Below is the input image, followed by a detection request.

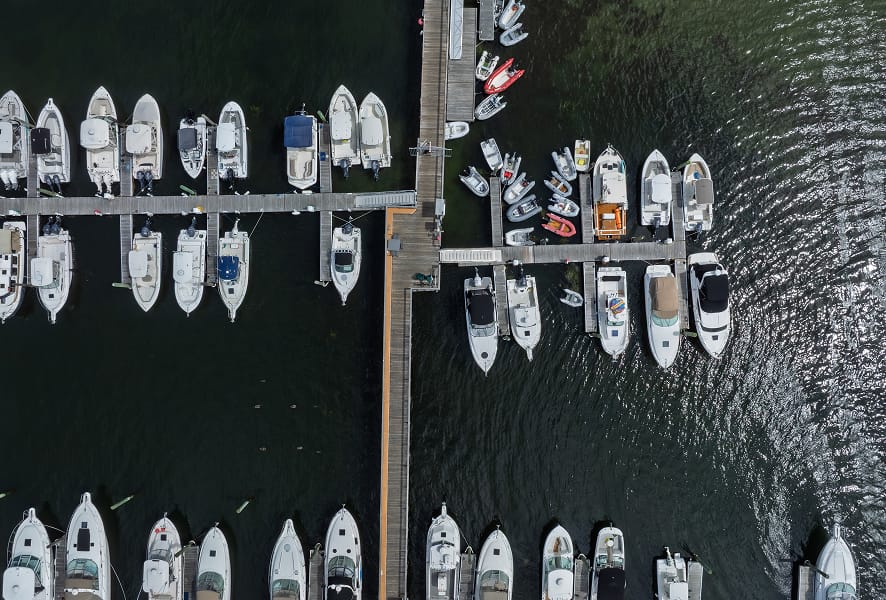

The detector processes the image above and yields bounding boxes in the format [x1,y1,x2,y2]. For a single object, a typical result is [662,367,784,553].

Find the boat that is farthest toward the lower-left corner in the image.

[3,506,55,600]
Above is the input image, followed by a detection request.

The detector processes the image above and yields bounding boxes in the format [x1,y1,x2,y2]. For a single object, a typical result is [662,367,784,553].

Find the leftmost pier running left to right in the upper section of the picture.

[0,194,363,216]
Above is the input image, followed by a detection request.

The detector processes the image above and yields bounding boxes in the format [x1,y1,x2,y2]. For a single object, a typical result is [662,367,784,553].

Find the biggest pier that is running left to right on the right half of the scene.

[459,240,686,265]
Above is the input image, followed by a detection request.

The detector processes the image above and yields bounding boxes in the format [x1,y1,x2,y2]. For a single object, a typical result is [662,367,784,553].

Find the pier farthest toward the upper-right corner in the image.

[670,171,684,241]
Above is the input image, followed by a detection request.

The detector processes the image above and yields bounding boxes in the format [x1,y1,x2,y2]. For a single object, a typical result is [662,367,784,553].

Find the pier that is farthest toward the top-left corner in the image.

[28,127,42,197]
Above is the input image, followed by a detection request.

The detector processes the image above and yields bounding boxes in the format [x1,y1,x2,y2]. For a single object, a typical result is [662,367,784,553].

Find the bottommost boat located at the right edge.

[811,524,859,600]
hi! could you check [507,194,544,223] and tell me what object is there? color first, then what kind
gray boat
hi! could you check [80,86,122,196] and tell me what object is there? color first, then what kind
white boat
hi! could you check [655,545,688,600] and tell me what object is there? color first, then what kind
white boat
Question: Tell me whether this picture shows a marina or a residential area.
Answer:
marina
